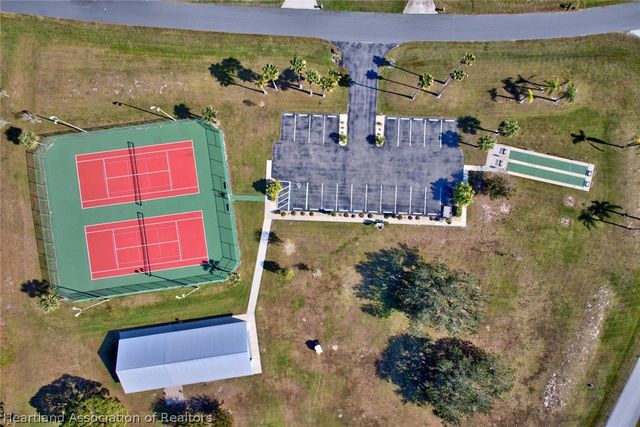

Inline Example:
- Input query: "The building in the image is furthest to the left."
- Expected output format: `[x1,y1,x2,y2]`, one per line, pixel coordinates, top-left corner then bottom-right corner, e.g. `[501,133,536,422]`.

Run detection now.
[116,321,254,393]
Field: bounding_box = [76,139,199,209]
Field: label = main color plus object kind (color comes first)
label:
red tennis court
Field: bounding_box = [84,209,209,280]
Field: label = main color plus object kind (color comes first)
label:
red tennis court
